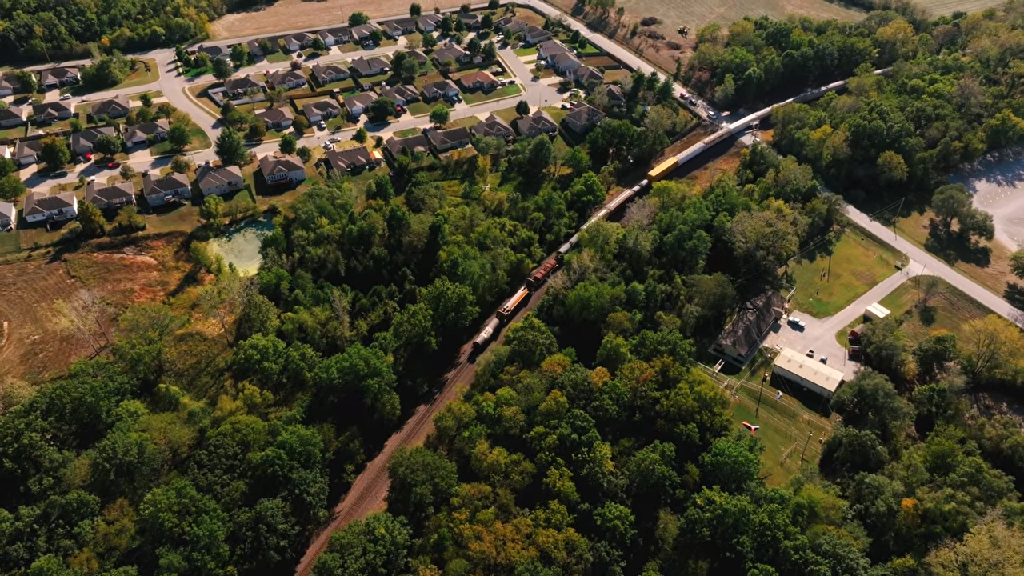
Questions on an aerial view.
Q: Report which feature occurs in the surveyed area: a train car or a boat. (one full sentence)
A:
The one in the frame is a train car.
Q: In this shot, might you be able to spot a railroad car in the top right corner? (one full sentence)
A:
Yes, I can see a railroad car in the top right corner.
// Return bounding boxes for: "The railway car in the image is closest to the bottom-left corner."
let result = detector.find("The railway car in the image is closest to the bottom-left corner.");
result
[474,311,505,348]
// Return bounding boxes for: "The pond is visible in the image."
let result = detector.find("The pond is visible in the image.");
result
[210,218,276,275]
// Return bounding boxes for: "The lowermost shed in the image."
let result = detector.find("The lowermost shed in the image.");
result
[768,350,842,408]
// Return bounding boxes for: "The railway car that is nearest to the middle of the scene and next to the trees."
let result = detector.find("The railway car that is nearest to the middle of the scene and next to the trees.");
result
[501,281,534,317]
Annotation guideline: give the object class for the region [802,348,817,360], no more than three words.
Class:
vehicle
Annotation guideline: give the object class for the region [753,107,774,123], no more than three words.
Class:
rail car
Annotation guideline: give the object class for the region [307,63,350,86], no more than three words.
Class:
house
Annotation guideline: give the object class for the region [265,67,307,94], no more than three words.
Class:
house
